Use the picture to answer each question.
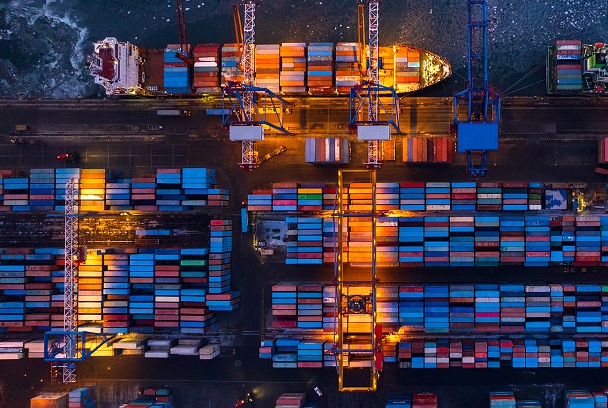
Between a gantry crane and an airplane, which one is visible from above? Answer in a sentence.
There is a gantry crane in the scene.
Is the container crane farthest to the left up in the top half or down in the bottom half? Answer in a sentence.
You can find the container crane farthest to the left in the bottom half.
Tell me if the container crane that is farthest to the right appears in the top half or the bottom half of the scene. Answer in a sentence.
Seen from above, the container crane that is farthest to the right lies in the top half of the view.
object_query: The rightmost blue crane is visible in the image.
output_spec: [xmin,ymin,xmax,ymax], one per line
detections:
[446,0,501,183]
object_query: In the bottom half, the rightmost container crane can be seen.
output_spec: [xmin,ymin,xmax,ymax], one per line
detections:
[333,169,387,390]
